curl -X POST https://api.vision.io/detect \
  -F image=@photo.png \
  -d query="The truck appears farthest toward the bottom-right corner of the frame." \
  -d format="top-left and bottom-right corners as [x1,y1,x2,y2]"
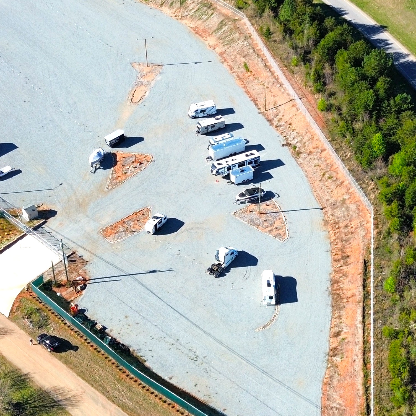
[207,249,241,276]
